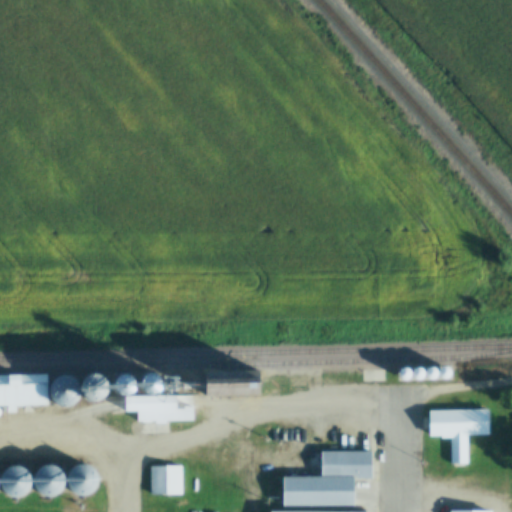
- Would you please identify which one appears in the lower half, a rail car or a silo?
silo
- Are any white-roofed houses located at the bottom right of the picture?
Yes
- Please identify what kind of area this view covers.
farmland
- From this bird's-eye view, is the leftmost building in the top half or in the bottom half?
bottom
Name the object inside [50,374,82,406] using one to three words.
silo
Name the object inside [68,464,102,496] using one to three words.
silo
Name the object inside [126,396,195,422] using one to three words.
shed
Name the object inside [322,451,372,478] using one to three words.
shed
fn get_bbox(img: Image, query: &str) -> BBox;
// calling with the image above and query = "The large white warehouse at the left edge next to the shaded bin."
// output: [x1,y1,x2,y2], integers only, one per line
[0,374,48,413]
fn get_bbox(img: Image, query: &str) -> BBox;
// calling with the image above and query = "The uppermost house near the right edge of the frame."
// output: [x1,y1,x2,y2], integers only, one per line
[430,410,490,468]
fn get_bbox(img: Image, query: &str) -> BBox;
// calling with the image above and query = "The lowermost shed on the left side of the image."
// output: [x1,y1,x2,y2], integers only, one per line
[151,465,184,496]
